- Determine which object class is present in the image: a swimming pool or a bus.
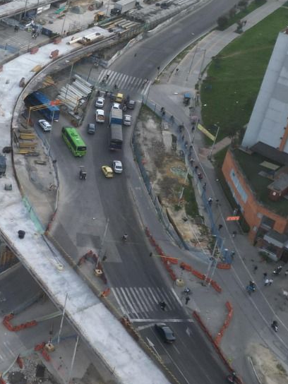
bus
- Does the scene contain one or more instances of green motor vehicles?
Yes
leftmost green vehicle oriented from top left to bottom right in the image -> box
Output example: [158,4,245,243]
[58,124,89,158]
